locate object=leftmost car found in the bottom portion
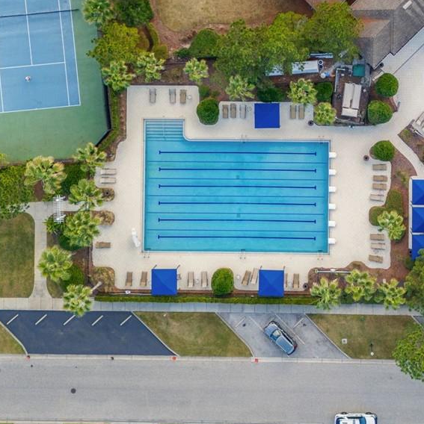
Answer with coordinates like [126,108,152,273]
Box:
[262,319,299,357]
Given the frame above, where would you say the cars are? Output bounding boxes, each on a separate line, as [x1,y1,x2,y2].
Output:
[262,319,299,357]
[334,412,377,424]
